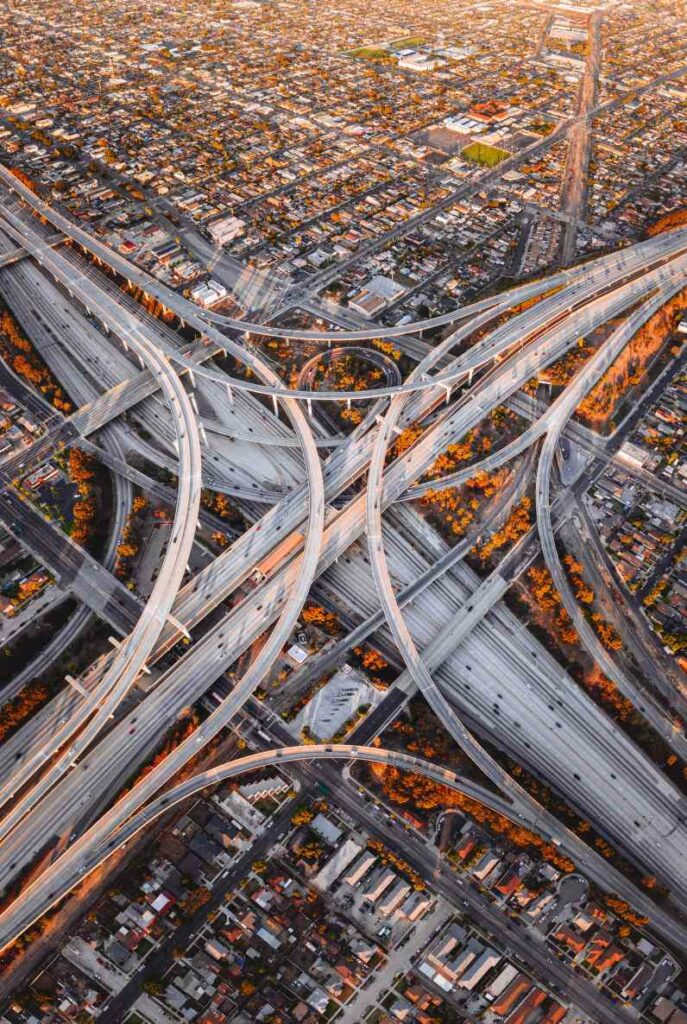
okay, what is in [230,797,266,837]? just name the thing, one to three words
building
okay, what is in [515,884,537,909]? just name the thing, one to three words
house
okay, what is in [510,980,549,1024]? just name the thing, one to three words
building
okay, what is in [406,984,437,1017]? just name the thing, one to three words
house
